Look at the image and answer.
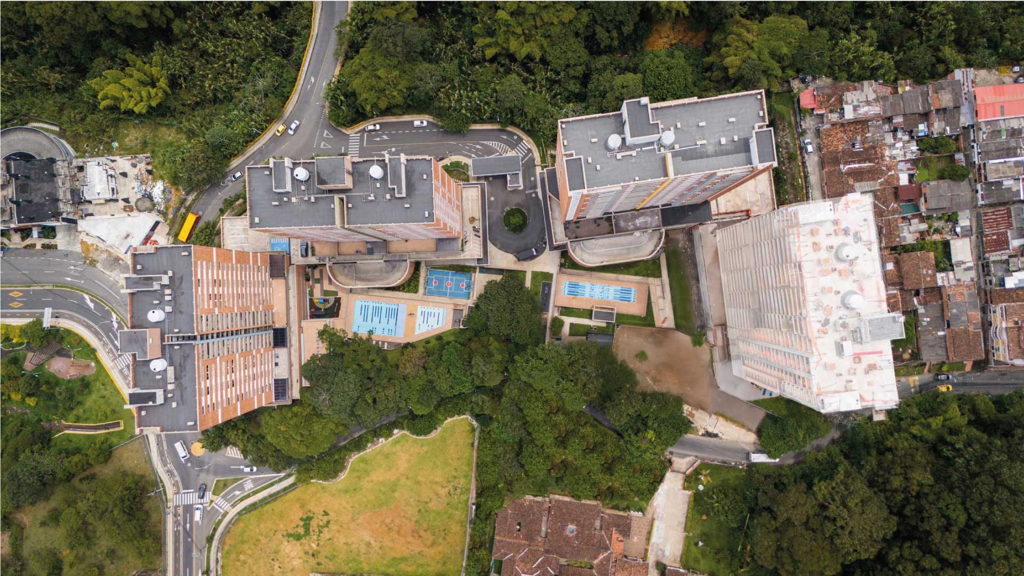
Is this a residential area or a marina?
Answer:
residential area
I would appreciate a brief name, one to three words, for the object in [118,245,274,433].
building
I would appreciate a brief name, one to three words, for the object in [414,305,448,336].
swimming pool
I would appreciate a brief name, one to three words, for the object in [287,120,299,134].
vehicle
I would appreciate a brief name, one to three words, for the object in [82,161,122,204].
house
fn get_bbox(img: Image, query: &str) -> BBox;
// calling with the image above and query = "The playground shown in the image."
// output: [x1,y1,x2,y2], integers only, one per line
[309,297,341,318]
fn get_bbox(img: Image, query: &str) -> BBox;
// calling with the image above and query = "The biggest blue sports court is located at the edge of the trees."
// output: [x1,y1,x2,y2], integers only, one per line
[423,267,473,301]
